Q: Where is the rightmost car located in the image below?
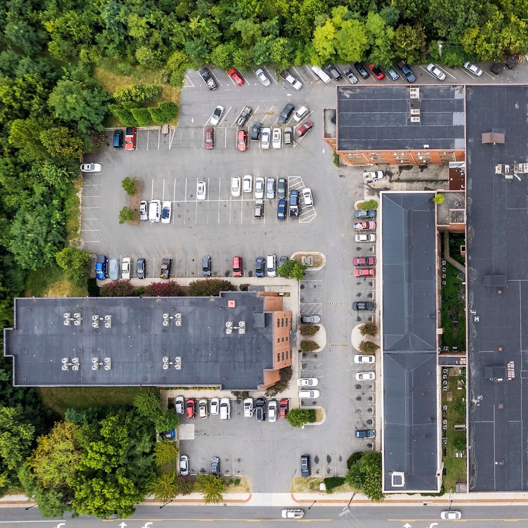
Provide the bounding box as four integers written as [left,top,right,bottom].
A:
[464,63,483,79]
